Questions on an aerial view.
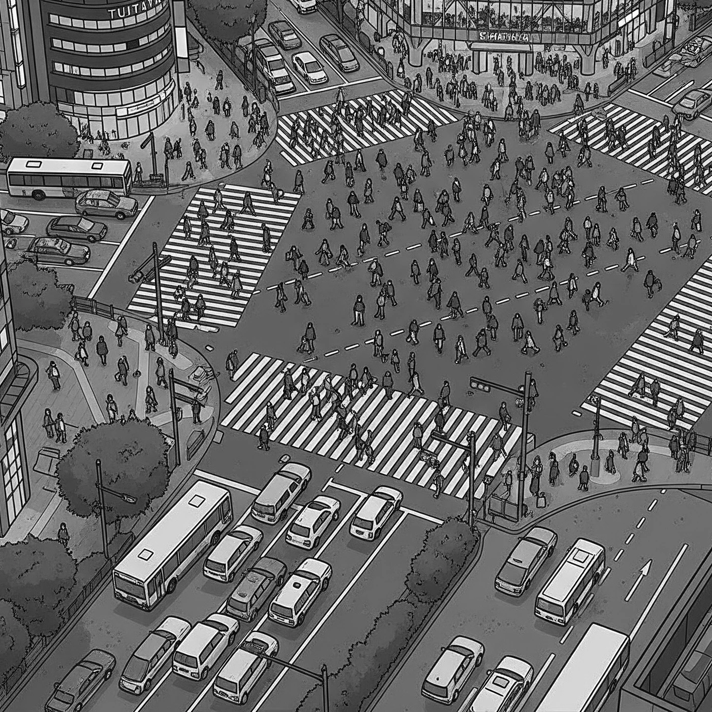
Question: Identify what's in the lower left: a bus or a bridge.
bus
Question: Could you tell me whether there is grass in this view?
No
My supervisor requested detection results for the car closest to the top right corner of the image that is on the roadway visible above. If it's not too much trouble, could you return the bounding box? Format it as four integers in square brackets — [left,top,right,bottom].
[677,38,712,69]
